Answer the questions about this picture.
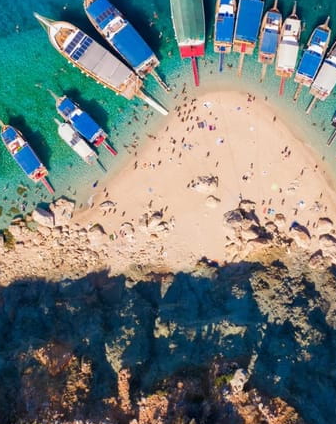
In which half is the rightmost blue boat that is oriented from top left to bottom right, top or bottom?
top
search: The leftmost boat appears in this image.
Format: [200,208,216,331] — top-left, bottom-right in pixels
[0,120,55,194]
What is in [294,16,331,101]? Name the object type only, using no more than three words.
boat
